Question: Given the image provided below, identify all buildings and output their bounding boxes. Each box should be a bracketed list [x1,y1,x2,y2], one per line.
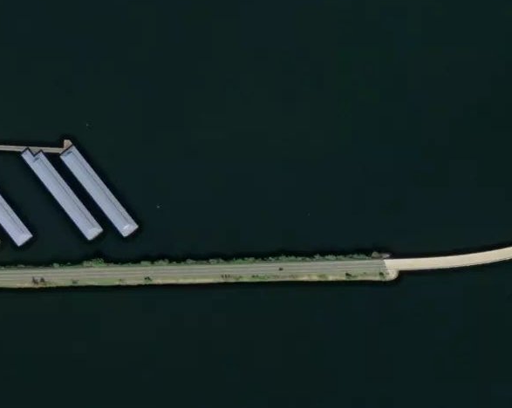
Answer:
[60,145,139,237]
[0,195,33,246]
[24,149,103,241]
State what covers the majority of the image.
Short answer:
water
